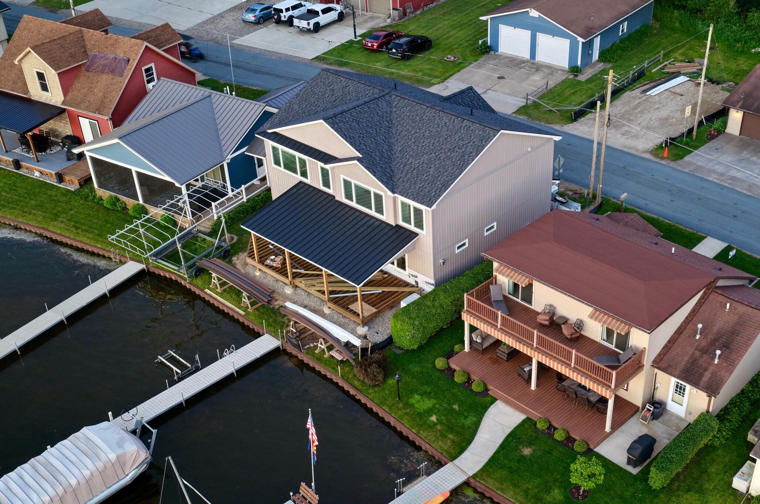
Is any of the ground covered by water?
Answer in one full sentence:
Yes, water can be seen from above here.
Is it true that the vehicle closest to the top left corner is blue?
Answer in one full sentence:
Yes, the vehicle closest to the top left corner is indeed blue.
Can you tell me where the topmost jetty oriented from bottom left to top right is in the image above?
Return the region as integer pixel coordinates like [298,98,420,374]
[0,253,144,362]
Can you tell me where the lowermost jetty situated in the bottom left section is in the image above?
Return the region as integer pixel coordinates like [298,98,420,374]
[100,324,283,433]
